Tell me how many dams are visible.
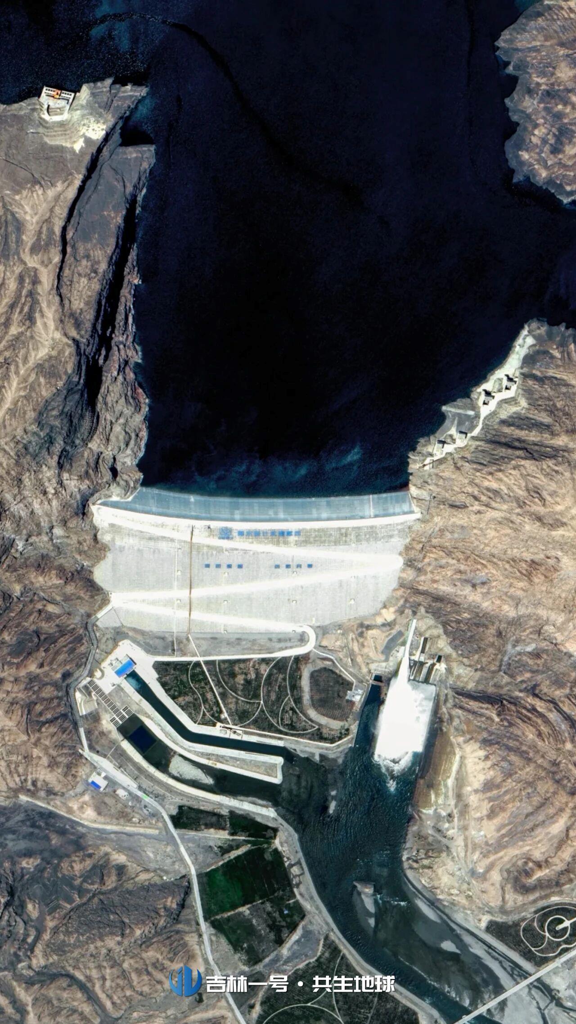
one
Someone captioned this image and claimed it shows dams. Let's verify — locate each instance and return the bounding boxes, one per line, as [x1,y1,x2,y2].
[89,487,422,633]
